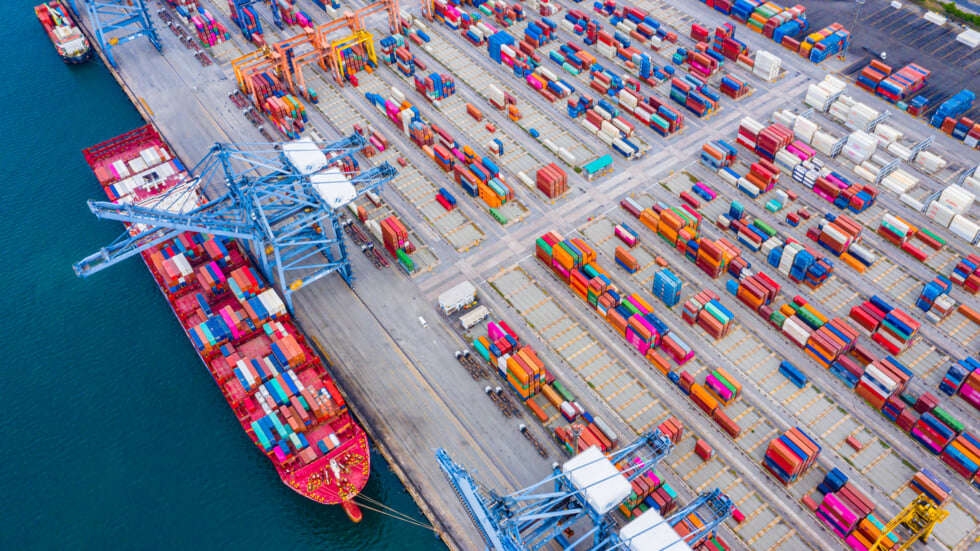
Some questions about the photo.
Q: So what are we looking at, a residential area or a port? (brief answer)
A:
port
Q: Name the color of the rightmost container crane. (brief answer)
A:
yellow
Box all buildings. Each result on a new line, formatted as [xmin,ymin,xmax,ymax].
[436,281,479,320]
[460,301,489,324]
[581,155,614,179]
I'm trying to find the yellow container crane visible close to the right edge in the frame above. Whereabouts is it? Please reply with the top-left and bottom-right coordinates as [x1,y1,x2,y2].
[868,490,949,551]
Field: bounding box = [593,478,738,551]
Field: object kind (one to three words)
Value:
container crane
